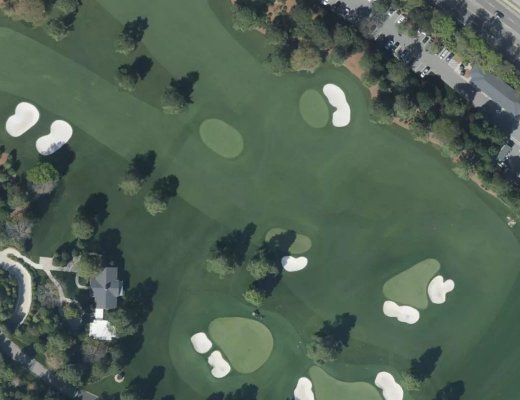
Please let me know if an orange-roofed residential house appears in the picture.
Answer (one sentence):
No, there is no orange-roofed residential house in the image.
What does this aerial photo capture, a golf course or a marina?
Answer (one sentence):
The picture captures a golf course.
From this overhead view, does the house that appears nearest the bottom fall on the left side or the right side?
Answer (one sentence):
It is on the left.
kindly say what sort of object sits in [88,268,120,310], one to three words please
house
